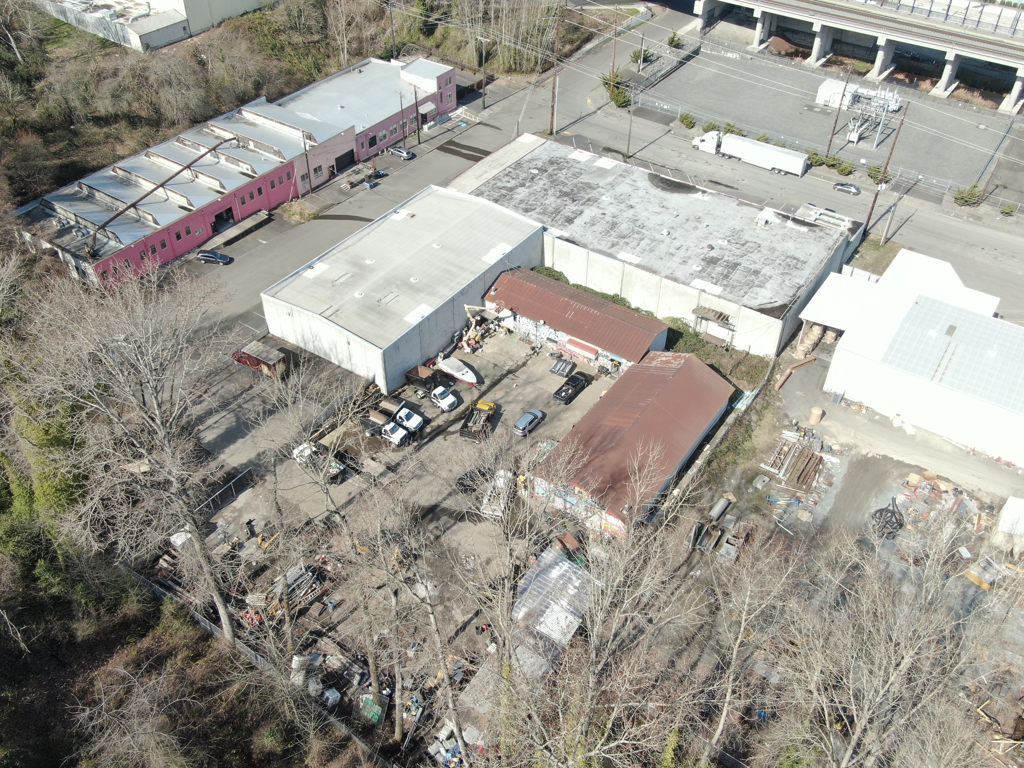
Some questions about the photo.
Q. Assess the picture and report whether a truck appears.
Yes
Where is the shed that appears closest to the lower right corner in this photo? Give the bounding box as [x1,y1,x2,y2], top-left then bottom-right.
[988,494,1024,563]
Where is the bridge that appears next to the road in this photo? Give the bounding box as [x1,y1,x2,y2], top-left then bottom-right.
[684,0,1024,115]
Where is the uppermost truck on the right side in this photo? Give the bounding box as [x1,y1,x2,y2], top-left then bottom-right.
[685,129,805,176]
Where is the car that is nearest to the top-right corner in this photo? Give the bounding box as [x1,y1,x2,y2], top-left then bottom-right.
[833,184,862,197]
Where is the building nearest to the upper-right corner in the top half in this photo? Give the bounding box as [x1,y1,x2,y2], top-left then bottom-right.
[808,74,861,112]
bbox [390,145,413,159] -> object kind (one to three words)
car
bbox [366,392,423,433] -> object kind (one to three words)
truck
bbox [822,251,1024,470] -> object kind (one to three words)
warehouse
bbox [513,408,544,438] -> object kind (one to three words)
car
